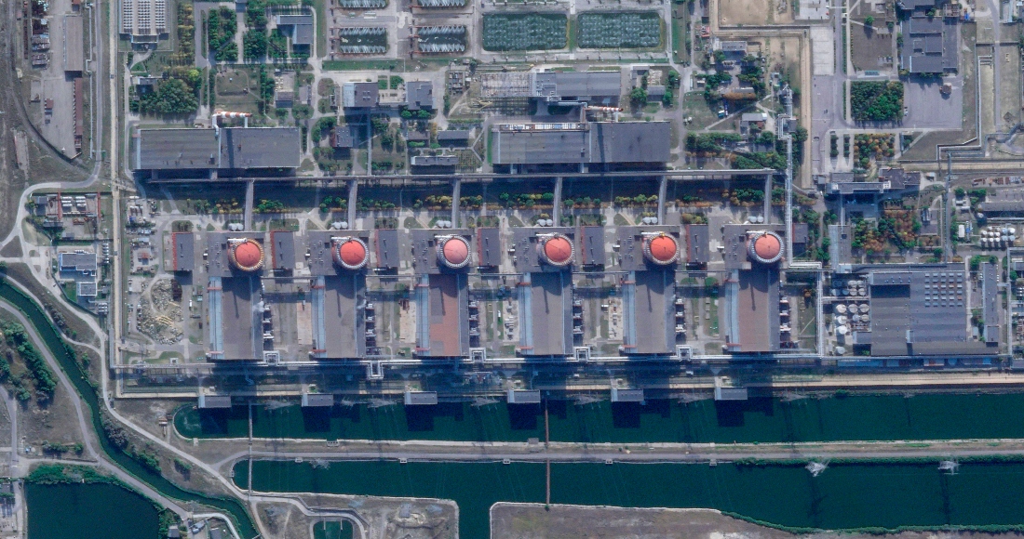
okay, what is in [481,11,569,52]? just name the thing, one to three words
pond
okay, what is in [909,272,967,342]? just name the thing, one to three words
building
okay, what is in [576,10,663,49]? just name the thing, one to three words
pond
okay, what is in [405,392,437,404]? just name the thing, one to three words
building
